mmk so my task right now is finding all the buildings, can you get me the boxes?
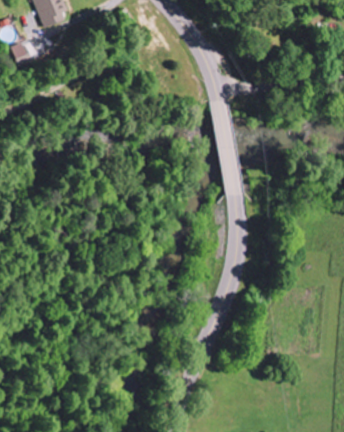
[11,40,32,60]
[33,0,56,26]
